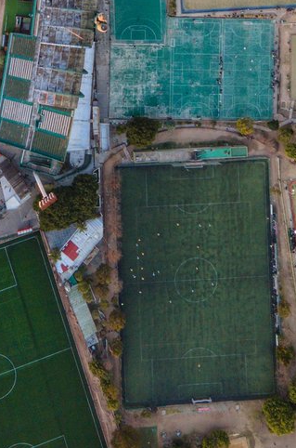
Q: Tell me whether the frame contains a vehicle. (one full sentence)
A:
No, this view has no vehicle in it.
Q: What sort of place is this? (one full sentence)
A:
This image shows a sports ground.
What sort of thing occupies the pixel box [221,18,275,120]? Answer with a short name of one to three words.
sports court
